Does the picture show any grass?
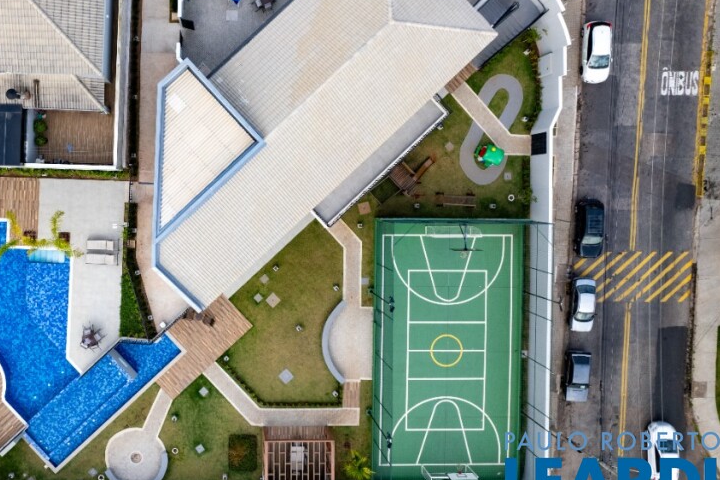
Yes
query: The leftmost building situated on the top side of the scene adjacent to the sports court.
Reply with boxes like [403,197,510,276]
[154,0,498,312]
